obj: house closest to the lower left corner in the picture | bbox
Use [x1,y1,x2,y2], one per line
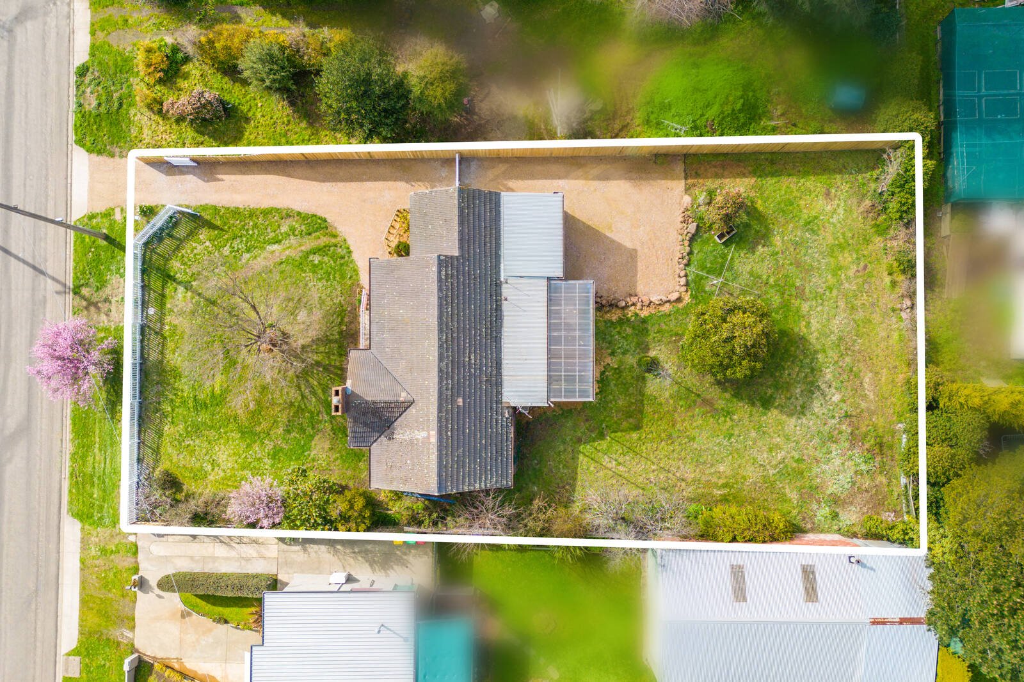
[248,576,418,682]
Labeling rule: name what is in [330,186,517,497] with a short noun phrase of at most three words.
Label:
house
